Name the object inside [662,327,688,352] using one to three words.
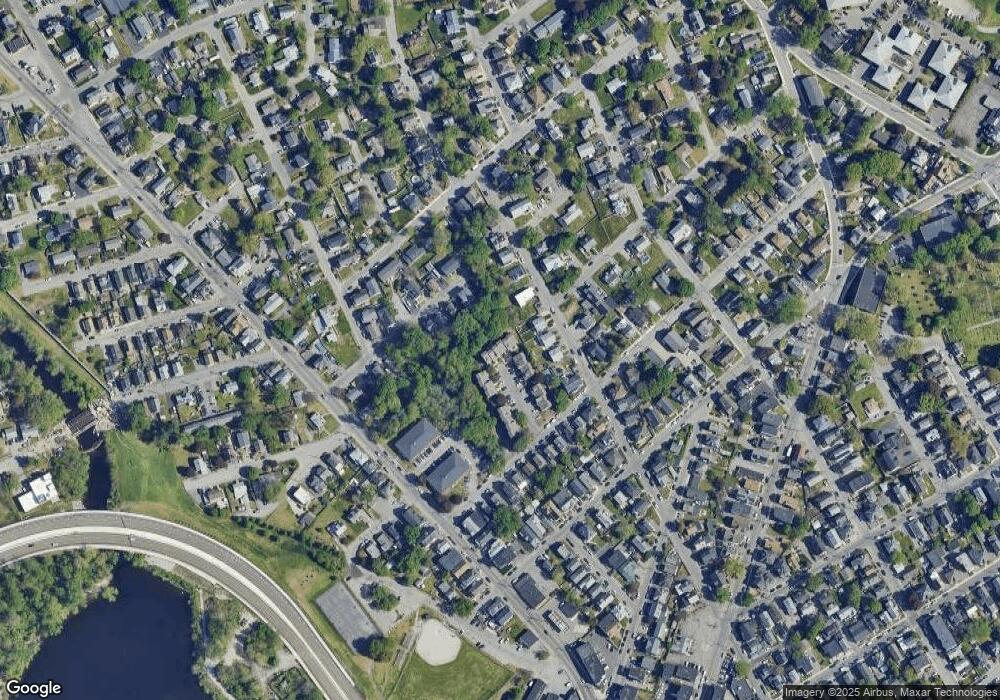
house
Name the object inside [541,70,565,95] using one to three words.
house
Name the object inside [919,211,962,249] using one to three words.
building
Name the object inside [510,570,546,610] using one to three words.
building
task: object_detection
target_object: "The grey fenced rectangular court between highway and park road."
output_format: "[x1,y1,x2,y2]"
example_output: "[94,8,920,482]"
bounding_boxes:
[320,587,378,649]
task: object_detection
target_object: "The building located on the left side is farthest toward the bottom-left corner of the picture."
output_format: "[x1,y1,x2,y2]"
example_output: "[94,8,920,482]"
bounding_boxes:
[15,469,59,508]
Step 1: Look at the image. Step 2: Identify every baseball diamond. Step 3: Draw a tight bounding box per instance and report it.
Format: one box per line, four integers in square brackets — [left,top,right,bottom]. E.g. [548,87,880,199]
[396,614,513,700]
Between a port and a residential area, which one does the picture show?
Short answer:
residential area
